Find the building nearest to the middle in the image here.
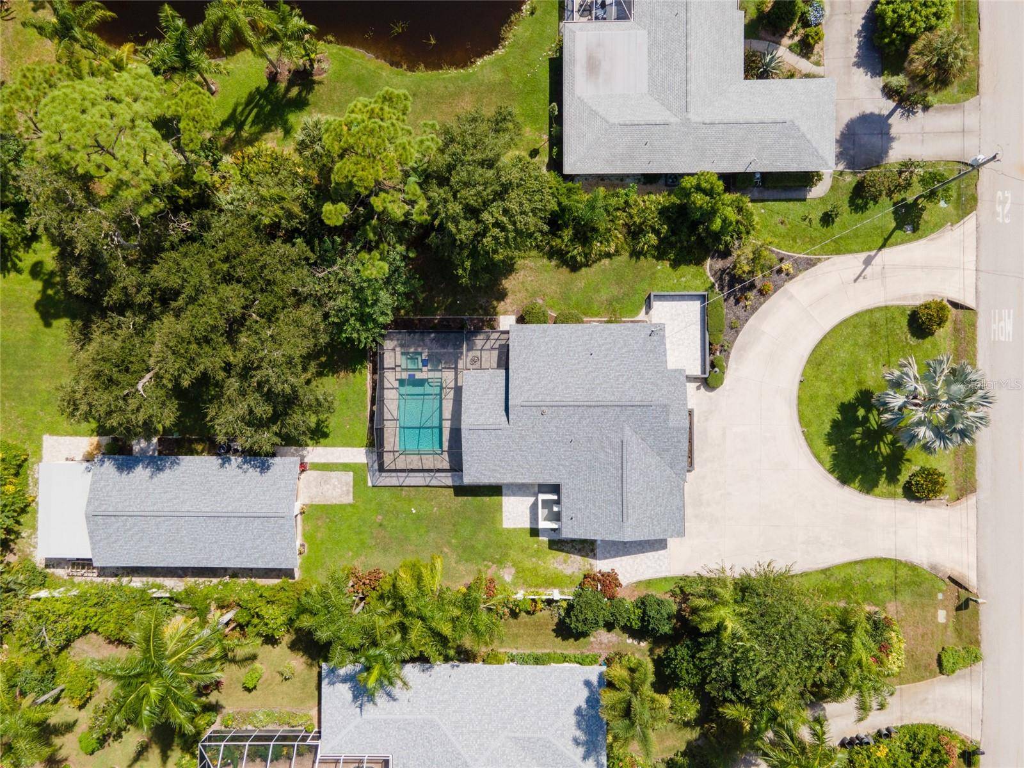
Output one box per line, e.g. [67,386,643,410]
[461,324,690,541]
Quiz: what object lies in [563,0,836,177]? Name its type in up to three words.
house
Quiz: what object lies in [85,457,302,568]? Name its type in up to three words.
shed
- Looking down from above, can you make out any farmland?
No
